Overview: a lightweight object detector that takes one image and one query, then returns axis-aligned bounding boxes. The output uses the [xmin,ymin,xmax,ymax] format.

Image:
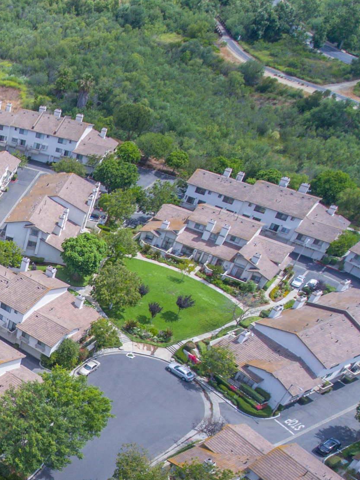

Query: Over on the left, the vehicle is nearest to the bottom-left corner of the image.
[78,359,100,375]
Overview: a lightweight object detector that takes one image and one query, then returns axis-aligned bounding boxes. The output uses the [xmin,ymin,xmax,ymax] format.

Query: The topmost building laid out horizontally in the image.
[0,101,127,175]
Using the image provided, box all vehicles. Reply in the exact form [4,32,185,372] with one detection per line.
[78,359,100,375]
[314,437,340,456]
[165,365,196,382]
[291,273,306,287]
[304,276,321,287]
